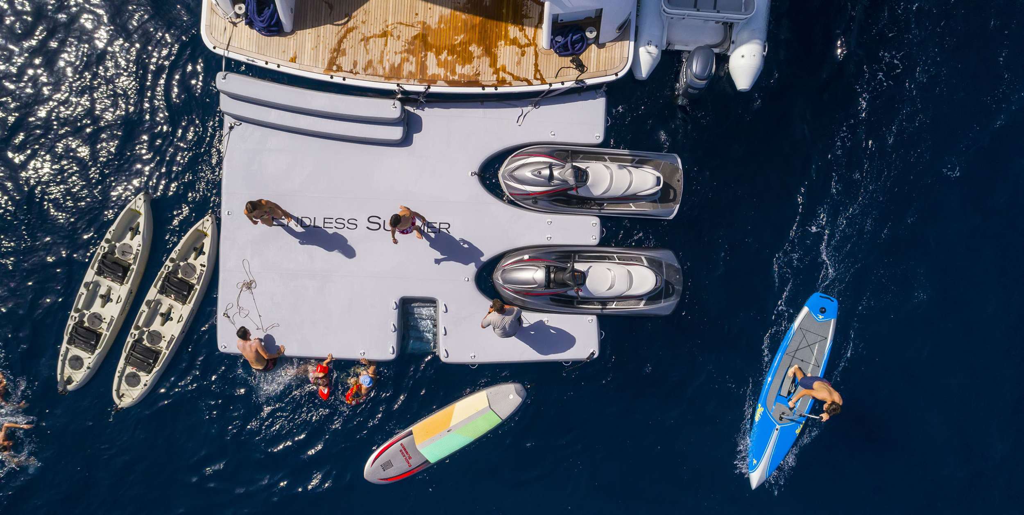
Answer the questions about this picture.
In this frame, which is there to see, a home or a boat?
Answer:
boat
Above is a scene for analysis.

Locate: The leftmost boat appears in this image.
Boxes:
[50,193,158,393]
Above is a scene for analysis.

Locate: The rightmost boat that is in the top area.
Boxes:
[634,0,773,107]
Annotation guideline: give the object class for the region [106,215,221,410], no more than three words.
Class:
boat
